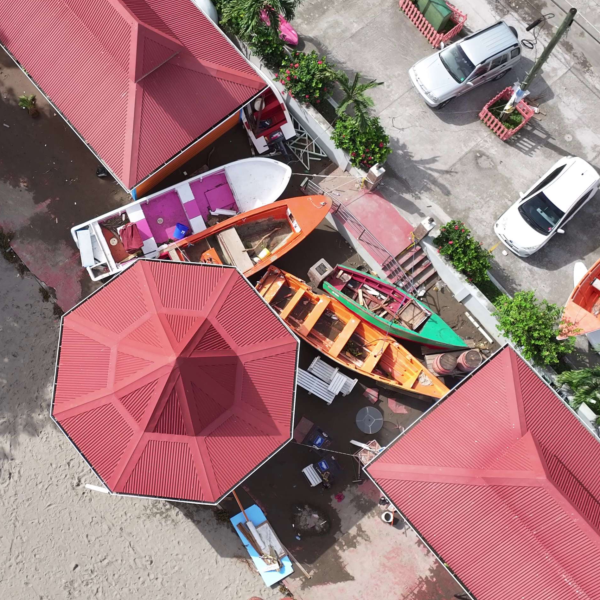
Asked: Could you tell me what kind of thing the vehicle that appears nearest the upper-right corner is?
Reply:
automobile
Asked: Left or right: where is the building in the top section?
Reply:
left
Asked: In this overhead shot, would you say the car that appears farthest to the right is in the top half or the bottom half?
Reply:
top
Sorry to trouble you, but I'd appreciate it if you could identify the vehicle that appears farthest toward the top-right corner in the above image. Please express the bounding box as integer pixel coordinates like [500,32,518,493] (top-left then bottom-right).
[410,7,533,106]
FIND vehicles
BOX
[493,146,600,258]
[410,7,533,106]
